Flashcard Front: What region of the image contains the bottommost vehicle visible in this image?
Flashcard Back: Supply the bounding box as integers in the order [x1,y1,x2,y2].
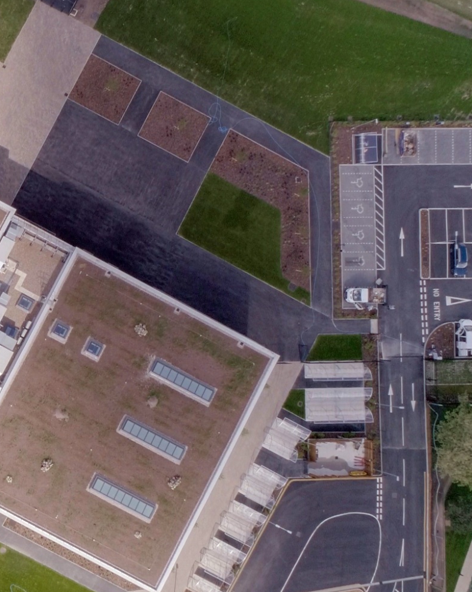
[454,314,472,354]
